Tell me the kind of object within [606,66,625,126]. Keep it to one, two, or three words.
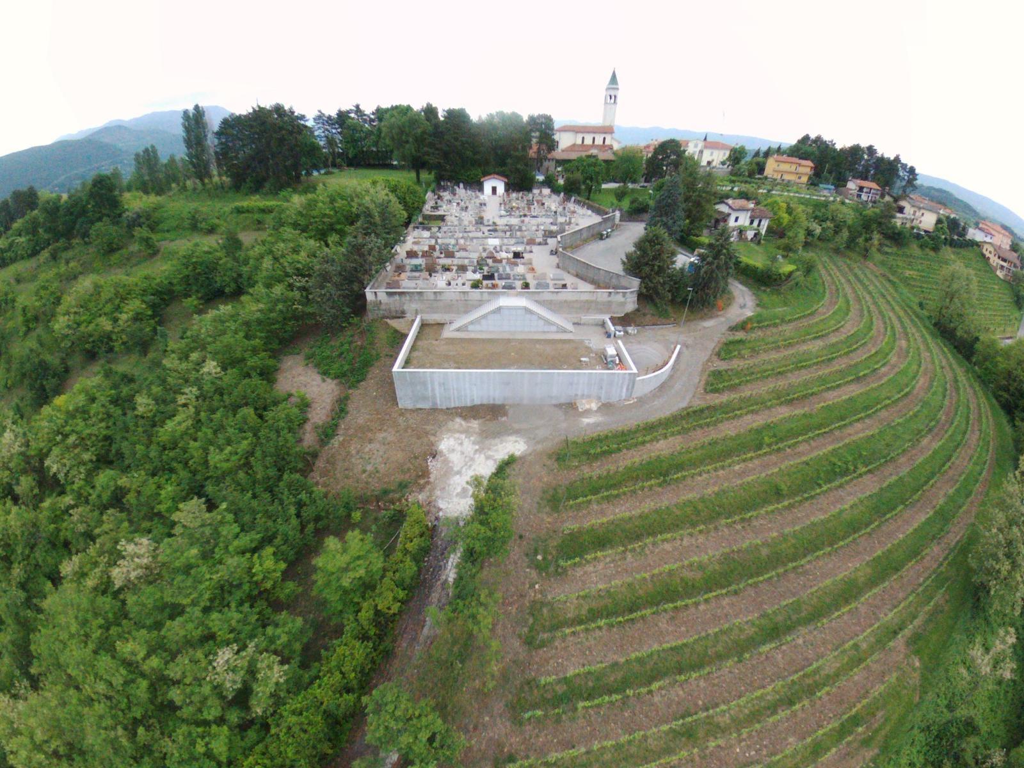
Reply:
building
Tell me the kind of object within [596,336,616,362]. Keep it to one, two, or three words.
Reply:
vehicle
